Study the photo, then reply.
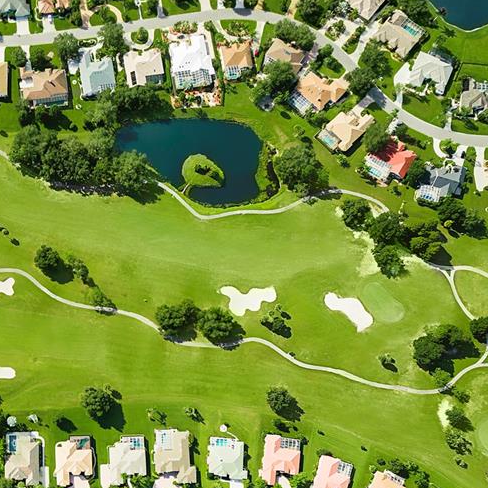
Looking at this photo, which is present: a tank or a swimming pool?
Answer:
swimming pool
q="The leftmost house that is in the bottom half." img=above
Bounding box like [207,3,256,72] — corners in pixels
[6,431,40,485]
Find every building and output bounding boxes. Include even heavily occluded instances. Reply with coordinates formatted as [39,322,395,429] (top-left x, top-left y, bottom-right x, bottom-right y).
[411,166,466,205]
[6,431,40,485]
[262,435,300,485]
[312,454,354,488]
[374,9,425,59]
[56,444,92,487]
[348,0,386,20]
[208,438,247,479]
[154,429,197,483]
[325,112,374,149]
[78,51,116,95]
[0,0,31,18]
[220,40,253,82]
[254,39,305,72]
[124,48,164,88]
[38,0,73,16]
[362,140,414,183]
[20,68,67,104]
[170,34,215,91]
[457,82,488,119]
[287,74,348,115]
[0,65,9,98]
[405,47,452,93]
[109,435,146,484]
[364,468,406,488]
